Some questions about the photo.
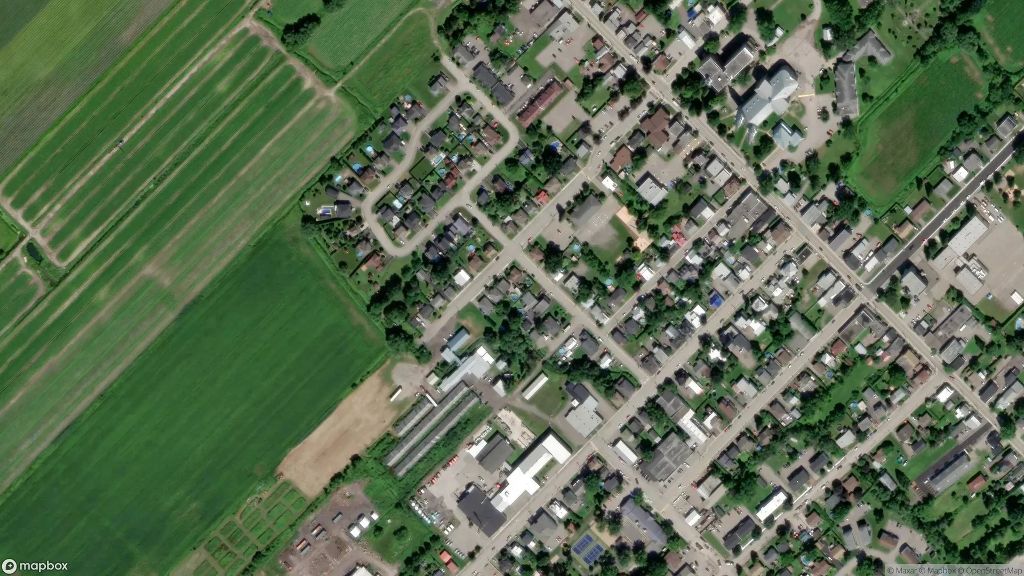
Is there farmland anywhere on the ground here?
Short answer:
Yes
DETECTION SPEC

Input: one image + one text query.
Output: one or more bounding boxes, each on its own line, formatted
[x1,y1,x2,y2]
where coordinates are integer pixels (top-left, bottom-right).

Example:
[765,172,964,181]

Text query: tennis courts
[572,534,594,555]
[583,543,605,565]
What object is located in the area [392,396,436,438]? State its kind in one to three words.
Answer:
barn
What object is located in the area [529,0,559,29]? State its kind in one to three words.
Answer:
building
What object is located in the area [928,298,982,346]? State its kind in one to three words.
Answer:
building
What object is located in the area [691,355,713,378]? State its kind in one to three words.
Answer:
house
